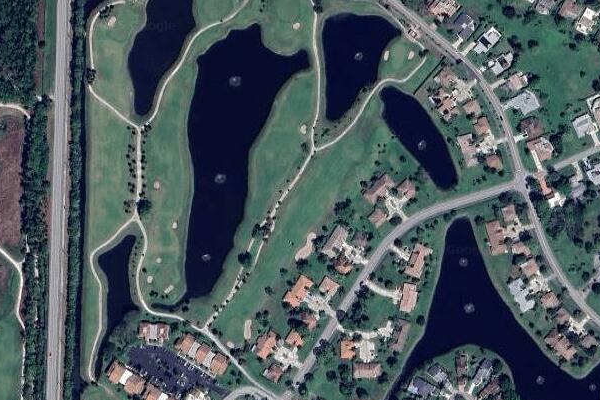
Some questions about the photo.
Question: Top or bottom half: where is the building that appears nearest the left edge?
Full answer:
The building that appears nearest the left edge sits in the bottom half of the picture.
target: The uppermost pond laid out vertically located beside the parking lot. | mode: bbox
[92,234,138,379]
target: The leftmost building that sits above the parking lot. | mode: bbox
[136,324,168,346]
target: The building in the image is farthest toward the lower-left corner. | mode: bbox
[105,363,145,395]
